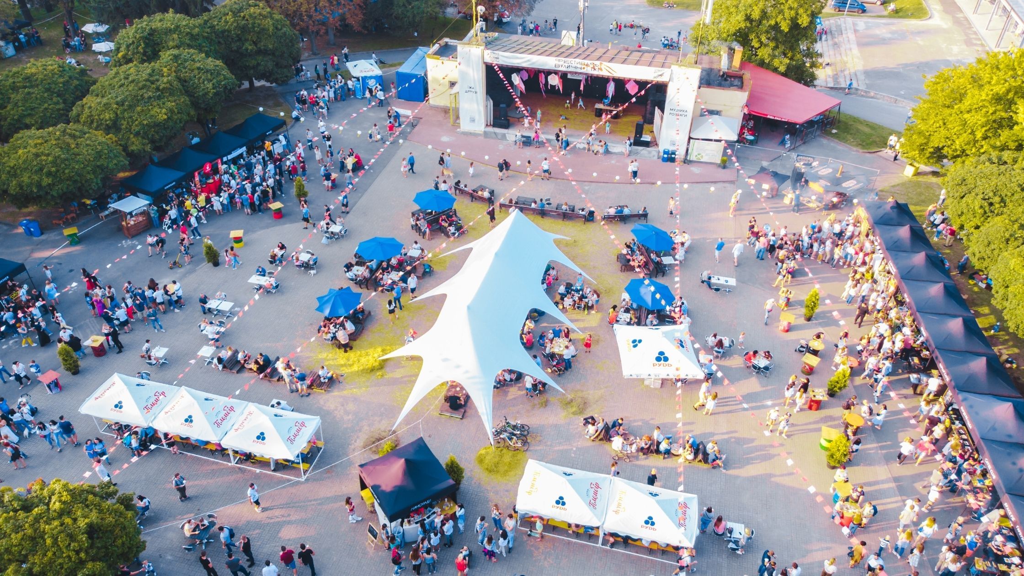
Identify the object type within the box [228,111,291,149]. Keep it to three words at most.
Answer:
tent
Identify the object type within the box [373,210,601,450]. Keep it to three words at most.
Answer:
tent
